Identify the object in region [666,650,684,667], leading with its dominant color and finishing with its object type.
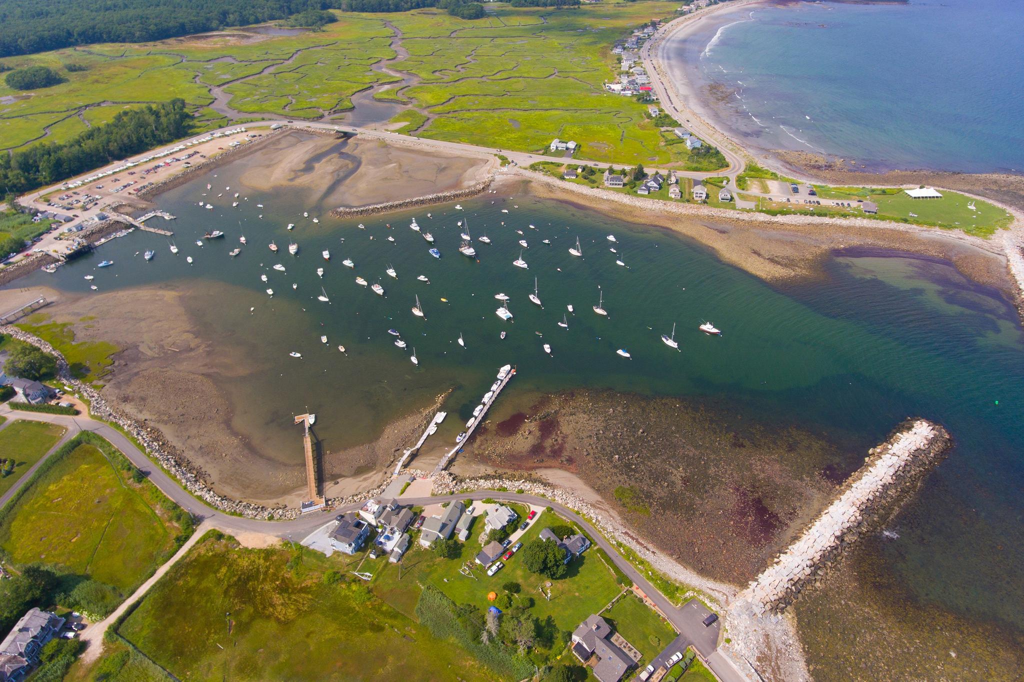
white vehicle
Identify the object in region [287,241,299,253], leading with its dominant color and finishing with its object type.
white boat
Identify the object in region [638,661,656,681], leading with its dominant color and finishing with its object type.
white vehicle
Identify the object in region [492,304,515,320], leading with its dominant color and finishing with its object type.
white boat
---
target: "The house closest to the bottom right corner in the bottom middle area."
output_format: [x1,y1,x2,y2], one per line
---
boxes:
[570,614,639,682]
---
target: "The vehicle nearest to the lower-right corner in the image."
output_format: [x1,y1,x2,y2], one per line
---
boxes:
[703,610,719,625]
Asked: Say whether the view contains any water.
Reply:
Yes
